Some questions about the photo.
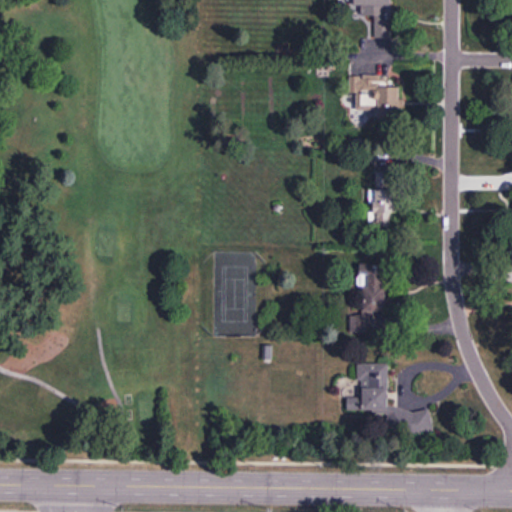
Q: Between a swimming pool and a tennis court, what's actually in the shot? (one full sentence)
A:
It is a tennis court that can be seen here.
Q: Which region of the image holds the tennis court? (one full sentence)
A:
Look in the center portion of the view to spot the tennis court.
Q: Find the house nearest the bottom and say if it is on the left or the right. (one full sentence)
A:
You can find the house nearest the bottom on the right side of the picture.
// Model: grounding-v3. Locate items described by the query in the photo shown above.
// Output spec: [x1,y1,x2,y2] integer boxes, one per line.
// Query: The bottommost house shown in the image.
[346,364,433,433]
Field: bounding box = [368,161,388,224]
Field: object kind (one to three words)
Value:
house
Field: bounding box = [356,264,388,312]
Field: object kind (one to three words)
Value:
house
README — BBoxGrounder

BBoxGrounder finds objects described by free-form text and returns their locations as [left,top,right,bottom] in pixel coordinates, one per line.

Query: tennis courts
[214,252,256,336]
